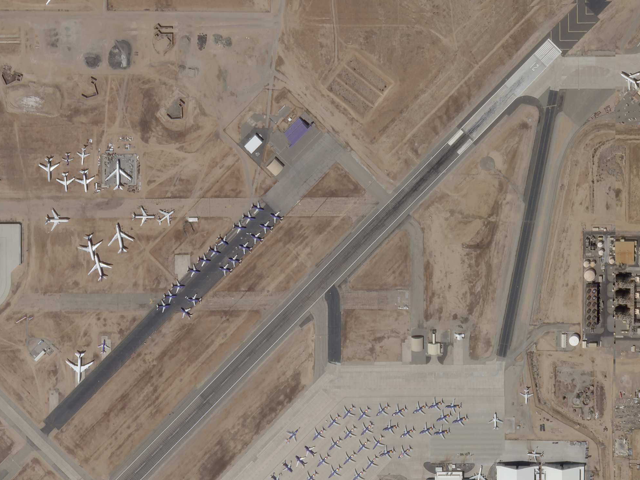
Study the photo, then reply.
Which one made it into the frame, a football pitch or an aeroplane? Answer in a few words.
aeroplane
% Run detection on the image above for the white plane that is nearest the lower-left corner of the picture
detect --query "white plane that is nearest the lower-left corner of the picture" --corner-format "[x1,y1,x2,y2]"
[66,352,95,383]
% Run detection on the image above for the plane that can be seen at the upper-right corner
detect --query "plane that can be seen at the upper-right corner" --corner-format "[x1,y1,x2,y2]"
[621,71,640,89]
